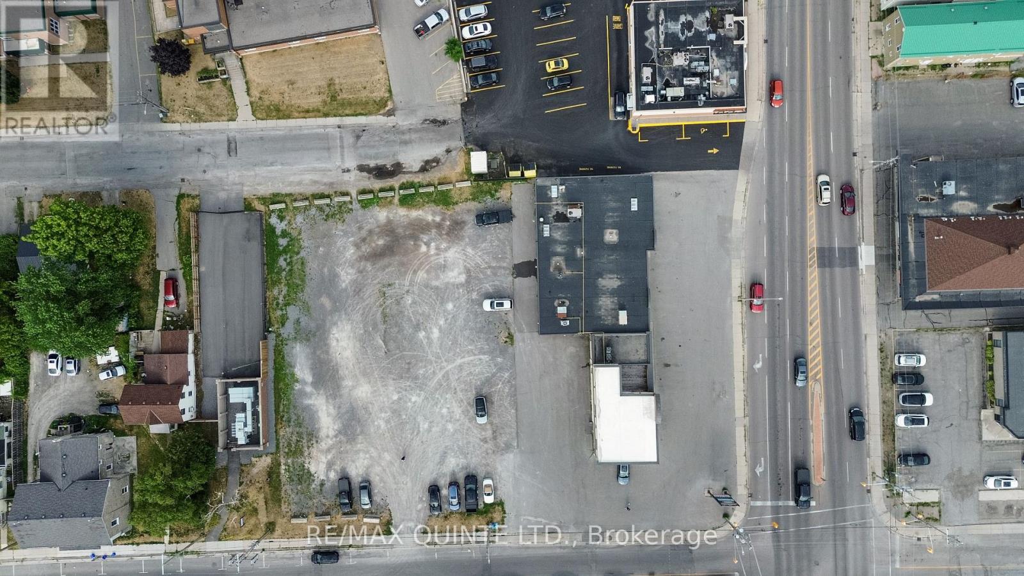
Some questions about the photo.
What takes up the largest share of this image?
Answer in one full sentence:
For the most part, this view shows paved ground.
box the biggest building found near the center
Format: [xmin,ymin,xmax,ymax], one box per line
[535,175,654,335]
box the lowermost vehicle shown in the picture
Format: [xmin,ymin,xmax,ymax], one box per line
[312,549,340,566]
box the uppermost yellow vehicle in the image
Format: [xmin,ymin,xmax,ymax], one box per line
[545,57,569,73]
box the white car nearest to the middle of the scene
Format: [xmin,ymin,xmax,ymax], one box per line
[482,298,512,312]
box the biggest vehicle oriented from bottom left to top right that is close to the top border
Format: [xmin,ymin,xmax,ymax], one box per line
[411,8,451,40]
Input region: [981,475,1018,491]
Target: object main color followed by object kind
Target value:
white car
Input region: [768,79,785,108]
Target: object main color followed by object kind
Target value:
red car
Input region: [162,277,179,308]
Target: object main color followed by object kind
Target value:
red car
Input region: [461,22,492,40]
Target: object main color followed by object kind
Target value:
white car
